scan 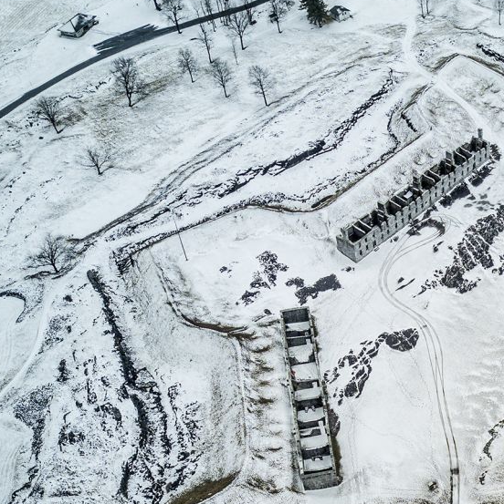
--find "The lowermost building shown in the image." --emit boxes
[281,306,339,486]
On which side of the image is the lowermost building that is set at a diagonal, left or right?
right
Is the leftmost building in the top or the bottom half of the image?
top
